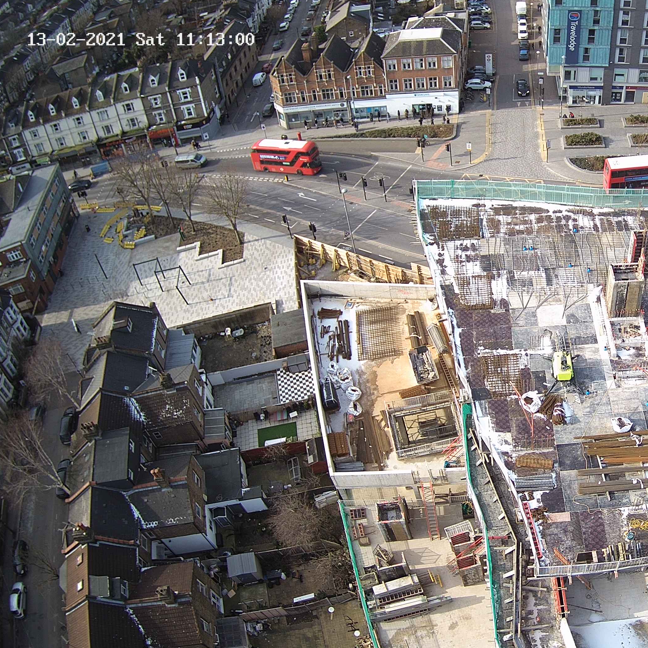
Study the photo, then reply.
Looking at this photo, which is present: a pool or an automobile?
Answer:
automobile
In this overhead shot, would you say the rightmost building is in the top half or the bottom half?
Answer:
top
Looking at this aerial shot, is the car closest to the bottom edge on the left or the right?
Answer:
left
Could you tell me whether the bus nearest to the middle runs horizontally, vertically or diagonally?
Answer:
horizontally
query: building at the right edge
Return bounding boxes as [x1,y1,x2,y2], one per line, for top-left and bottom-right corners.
[529,0,648,107]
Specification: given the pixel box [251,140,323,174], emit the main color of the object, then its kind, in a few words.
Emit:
red bus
